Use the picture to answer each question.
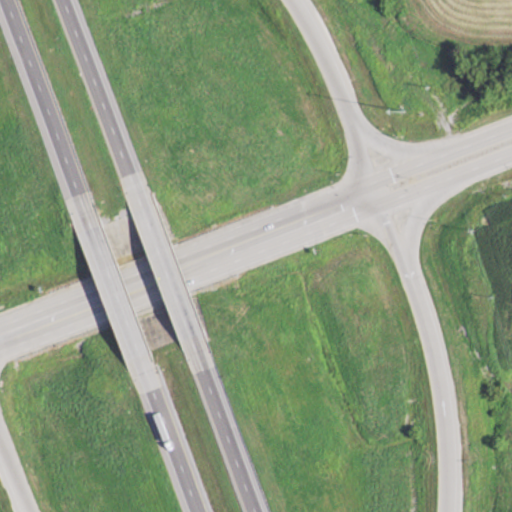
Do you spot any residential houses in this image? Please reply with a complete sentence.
No, the photo shows no residential house.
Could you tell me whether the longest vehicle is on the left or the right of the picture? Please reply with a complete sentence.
The longest vehicle is on the left side of the image.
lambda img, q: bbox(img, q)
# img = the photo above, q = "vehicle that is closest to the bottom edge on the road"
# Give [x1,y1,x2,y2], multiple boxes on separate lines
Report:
[154,412,174,452]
